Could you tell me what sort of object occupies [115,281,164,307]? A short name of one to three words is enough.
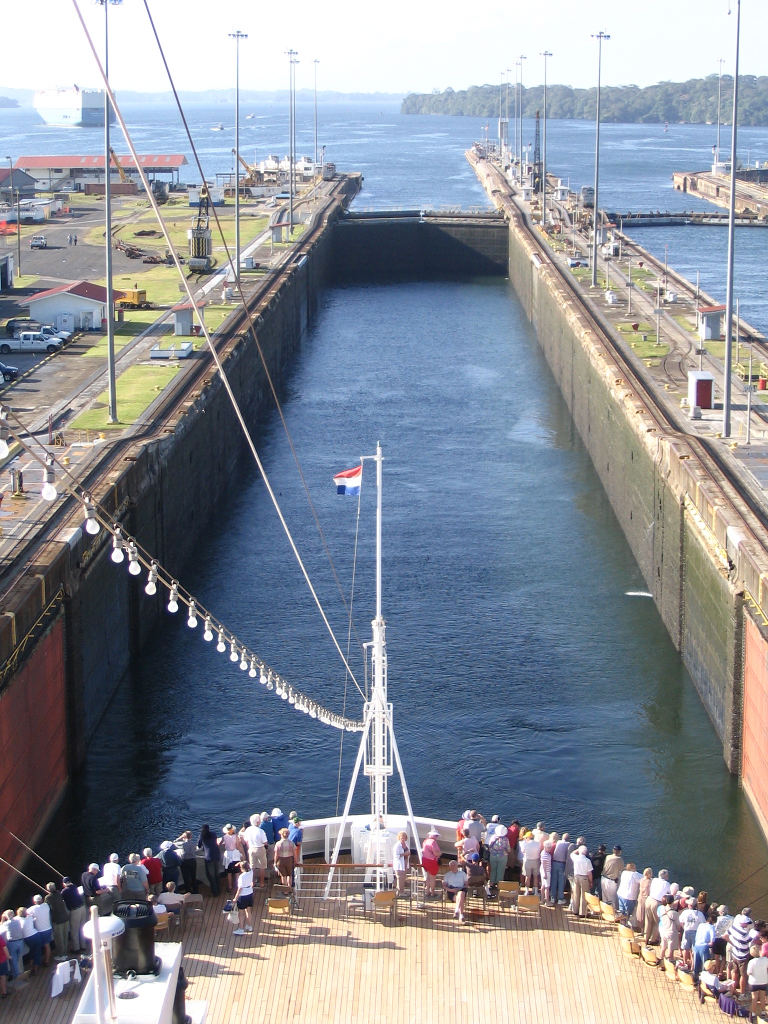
trailer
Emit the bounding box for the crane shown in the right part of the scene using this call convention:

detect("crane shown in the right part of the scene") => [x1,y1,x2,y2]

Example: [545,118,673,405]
[529,113,543,193]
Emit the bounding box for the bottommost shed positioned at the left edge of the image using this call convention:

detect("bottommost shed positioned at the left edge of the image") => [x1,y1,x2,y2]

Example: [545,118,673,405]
[18,284,126,332]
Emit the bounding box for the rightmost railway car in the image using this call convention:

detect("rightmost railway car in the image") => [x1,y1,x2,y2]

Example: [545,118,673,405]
[581,186,594,207]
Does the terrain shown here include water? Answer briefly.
Yes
